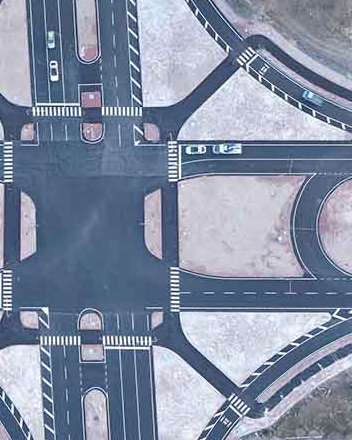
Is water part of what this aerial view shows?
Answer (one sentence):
No, there is no water in the image.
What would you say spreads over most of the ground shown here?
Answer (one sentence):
What you mostly see from above here is paved ground.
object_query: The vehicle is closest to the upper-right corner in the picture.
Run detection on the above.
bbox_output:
[303,90,325,106]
